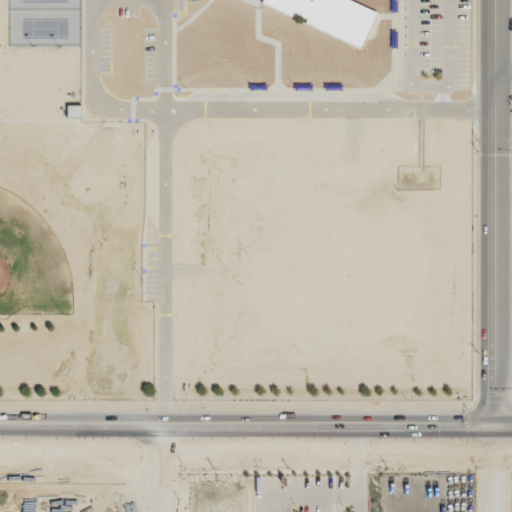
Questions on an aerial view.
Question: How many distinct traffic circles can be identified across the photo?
0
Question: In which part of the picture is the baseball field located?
left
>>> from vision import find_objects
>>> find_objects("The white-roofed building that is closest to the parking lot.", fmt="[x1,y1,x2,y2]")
[259,0,378,48]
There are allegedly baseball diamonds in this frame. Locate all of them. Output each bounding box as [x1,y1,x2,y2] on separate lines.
[0,188,74,314]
